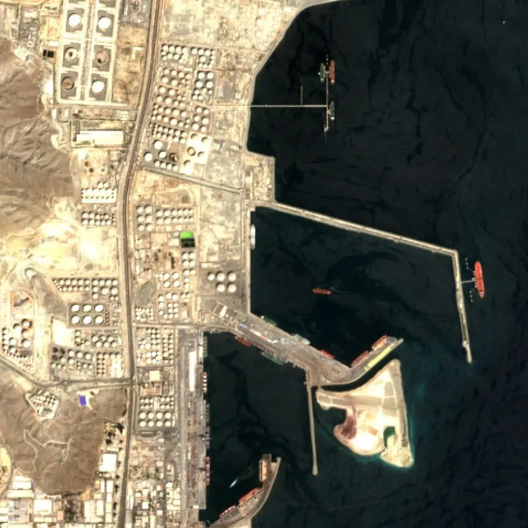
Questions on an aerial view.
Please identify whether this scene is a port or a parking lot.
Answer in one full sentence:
The picture captures a port.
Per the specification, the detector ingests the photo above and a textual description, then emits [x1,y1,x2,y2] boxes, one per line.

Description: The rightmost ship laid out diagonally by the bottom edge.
[238,488,260,511]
